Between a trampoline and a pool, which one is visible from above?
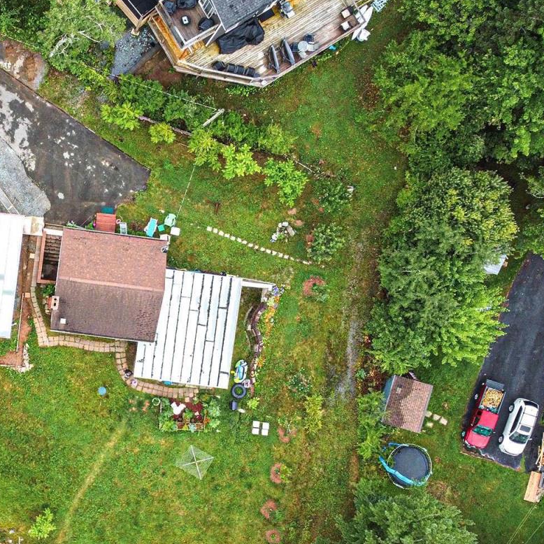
trampoline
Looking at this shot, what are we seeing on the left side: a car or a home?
home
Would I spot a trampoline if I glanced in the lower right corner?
Yes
